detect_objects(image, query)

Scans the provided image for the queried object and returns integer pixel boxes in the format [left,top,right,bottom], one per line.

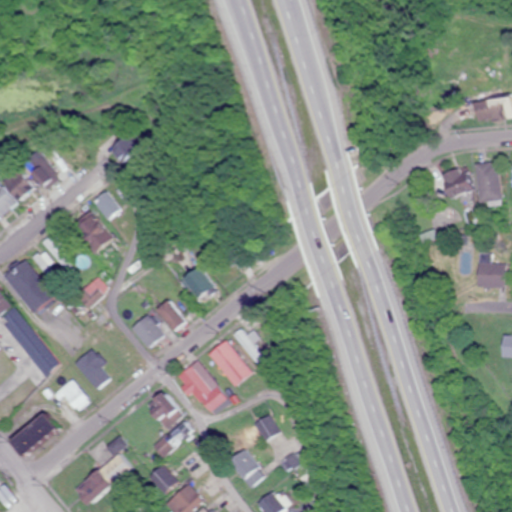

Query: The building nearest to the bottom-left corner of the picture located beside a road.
[10,412,57,457]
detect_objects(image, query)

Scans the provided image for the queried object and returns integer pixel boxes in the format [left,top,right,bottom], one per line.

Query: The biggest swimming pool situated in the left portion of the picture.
[74,254,90,270]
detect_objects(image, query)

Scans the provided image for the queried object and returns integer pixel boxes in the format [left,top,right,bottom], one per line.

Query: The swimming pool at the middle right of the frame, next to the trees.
[458,248,474,278]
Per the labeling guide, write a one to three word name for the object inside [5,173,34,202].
house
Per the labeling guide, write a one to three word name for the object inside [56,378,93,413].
building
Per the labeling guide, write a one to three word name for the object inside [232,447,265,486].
house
